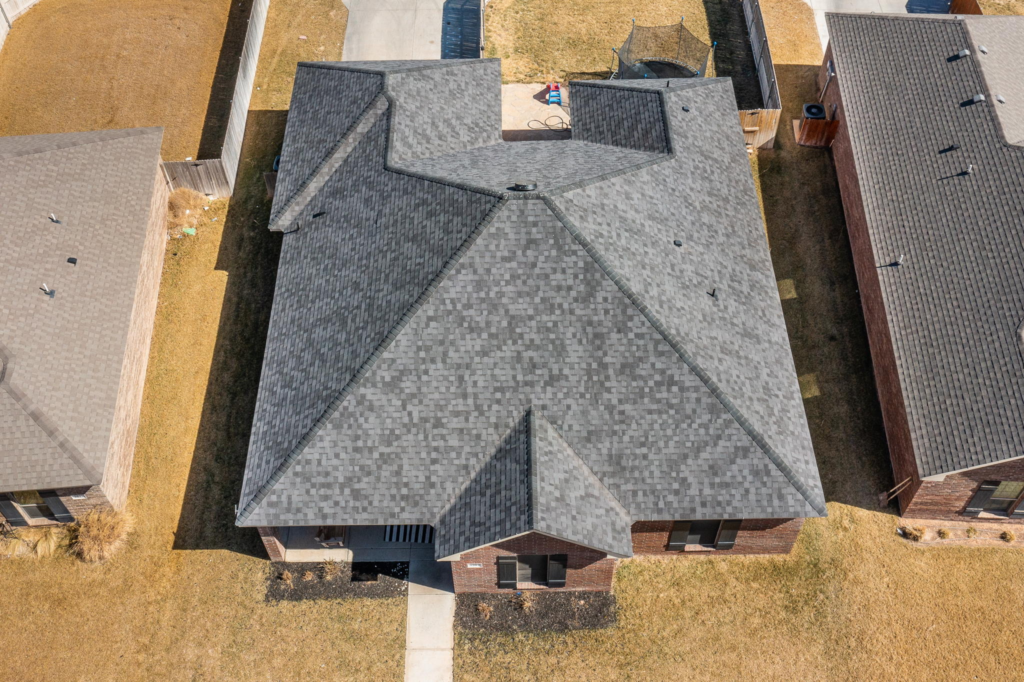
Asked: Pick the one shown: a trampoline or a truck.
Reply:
trampoline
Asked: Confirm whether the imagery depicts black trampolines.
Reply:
No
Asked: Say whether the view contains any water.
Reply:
No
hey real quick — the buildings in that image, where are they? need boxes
[821,13,1024,525]
[235,58,828,594]
[0,126,174,536]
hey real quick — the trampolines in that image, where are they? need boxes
[609,17,716,80]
